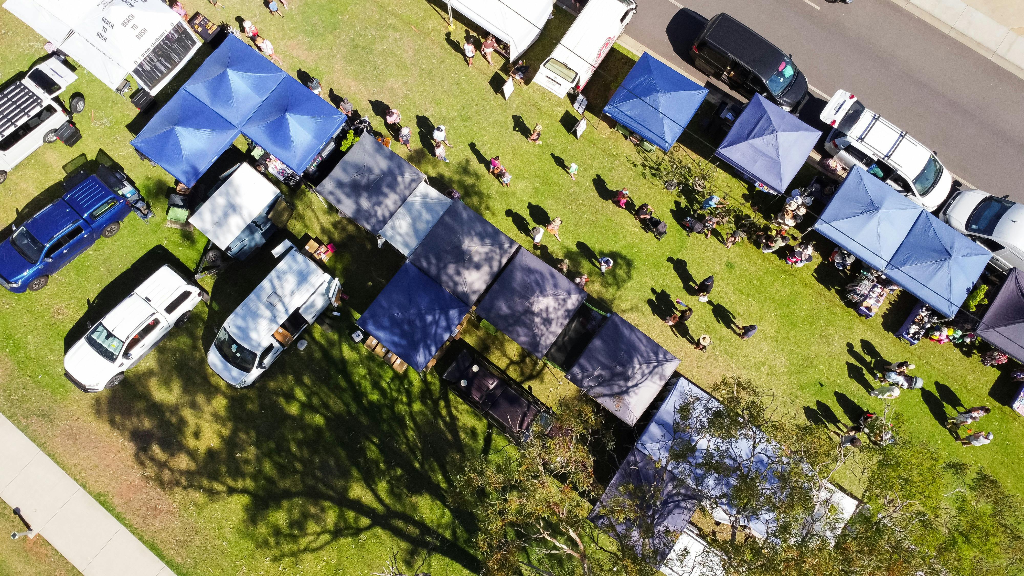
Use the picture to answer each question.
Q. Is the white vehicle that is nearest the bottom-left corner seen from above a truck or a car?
truck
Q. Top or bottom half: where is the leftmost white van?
top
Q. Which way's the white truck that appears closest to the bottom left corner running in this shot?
at an angle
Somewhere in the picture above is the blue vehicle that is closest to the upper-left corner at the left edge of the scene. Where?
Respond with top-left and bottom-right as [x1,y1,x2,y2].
[0,168,137,301]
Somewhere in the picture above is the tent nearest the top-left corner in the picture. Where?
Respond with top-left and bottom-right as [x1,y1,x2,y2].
[2,0,89,74]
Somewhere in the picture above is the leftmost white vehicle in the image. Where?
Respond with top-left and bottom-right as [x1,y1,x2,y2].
[0,57,90,187]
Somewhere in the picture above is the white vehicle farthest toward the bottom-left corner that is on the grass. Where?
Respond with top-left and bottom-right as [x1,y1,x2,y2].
[57,266,210,400]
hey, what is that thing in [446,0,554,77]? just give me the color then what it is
white tent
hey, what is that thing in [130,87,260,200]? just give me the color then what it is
blue gazebo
